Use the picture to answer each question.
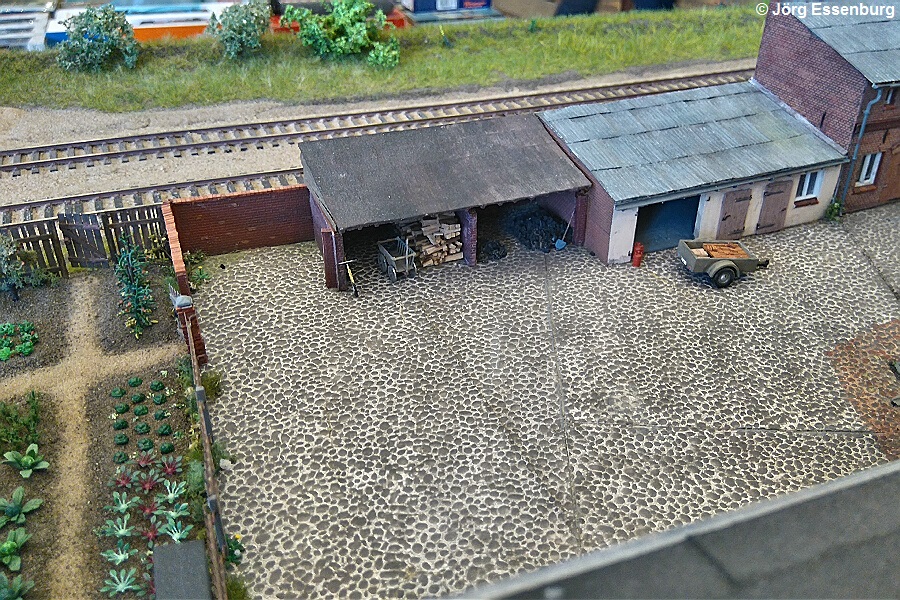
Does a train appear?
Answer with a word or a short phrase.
No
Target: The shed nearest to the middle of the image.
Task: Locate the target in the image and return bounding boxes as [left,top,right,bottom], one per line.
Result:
[295,112,590,294]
